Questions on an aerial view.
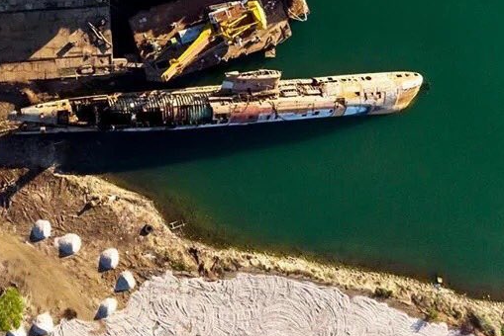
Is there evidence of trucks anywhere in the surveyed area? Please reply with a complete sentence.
No, there is no truck in the image.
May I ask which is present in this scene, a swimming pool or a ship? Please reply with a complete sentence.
It is a ship that can be seen here.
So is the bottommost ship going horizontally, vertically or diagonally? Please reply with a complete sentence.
From this overhead view, the bottommost ship appears to run horizontally.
